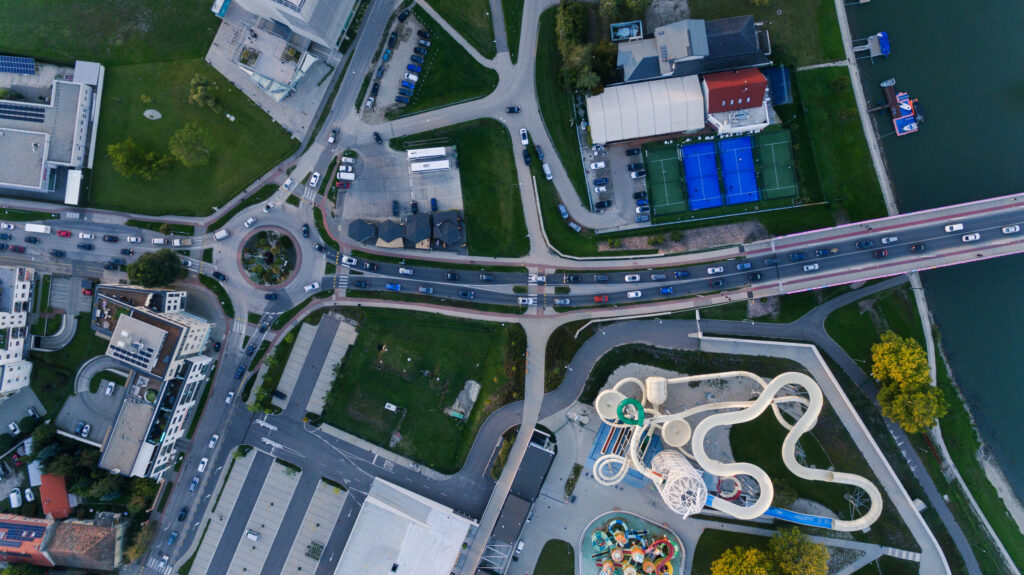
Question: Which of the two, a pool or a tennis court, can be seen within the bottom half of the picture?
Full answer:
The one visible within the bottom half of the picture is a pool.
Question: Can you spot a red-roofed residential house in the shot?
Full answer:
Yes, a red-roofed residential house appears in the view.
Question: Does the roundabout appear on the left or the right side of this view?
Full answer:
It is on the left.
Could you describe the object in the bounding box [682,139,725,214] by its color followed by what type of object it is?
blue tennis court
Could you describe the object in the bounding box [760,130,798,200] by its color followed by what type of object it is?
green tennis court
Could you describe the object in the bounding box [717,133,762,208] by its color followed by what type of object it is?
blue tennis court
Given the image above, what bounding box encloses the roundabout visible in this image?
[236,225,302,290]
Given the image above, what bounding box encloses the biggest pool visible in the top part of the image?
[610,20,643,42]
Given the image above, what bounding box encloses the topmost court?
[767,66,793,105]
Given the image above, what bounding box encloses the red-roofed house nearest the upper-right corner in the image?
[700,68,769,135]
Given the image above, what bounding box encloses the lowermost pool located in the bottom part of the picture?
[579,510,685,575]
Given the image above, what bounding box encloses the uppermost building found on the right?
[617,15,772,84]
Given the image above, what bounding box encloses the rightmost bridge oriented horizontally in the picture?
[772,194,1024,295]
